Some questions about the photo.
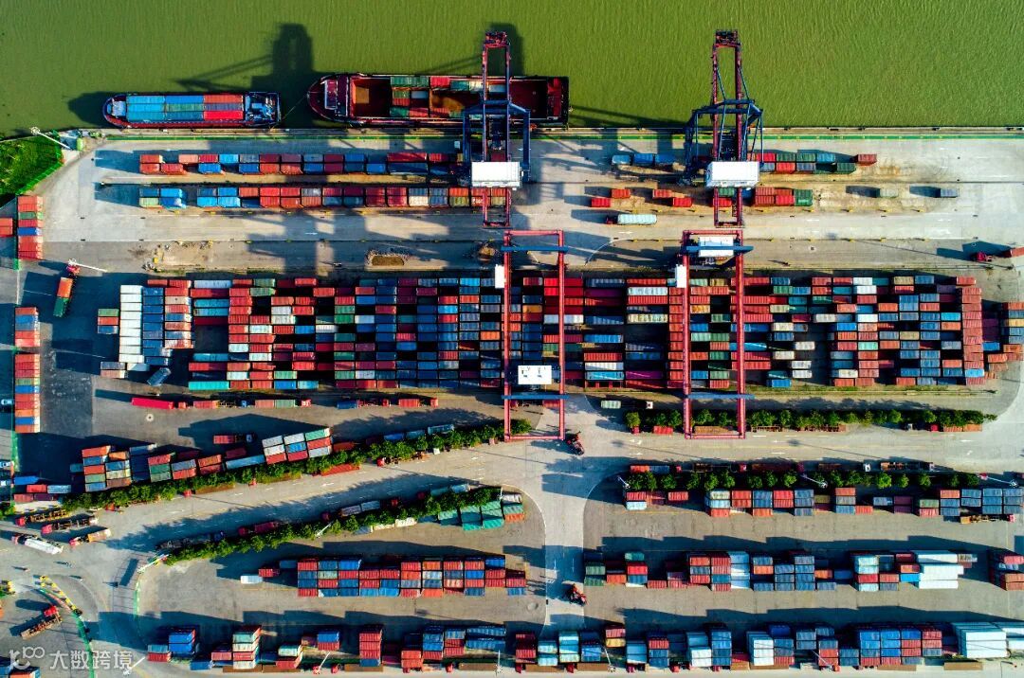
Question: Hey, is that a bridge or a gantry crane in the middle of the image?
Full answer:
The one visible in the middle of the image is a gantry crane.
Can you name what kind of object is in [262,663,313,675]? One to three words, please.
vehicle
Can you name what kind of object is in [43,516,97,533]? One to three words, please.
vehicle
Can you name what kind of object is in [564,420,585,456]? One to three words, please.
work vehicle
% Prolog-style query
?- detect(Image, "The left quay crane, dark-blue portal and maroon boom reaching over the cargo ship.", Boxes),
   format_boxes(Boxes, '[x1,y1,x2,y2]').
[459,29,537,231]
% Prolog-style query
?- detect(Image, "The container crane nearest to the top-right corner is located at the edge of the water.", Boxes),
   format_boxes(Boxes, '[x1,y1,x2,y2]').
[669,29,762,230]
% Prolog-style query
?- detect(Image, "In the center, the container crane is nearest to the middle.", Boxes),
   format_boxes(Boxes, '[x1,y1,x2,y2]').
[492,230,571,439]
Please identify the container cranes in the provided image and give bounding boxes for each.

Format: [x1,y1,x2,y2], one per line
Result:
[669,29,762,230]
[663,230,759,439]
[459,29,537,231]
[492,230,571,439]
